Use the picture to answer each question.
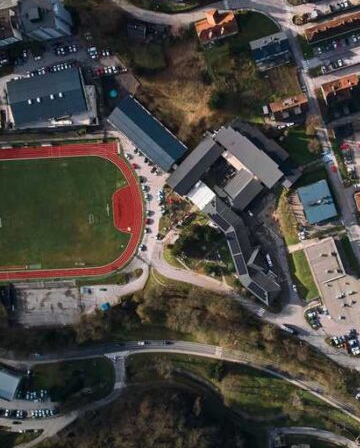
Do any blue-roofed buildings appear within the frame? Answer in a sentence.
Yes, the picture does show a blue-roofed building.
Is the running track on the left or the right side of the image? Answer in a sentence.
The running track is on the left side of the image.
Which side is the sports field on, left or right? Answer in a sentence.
The sports field appears in the left half of the scene.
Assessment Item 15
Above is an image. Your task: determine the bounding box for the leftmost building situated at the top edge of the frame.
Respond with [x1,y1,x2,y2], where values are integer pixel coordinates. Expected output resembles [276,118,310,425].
[0,9,29,52]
